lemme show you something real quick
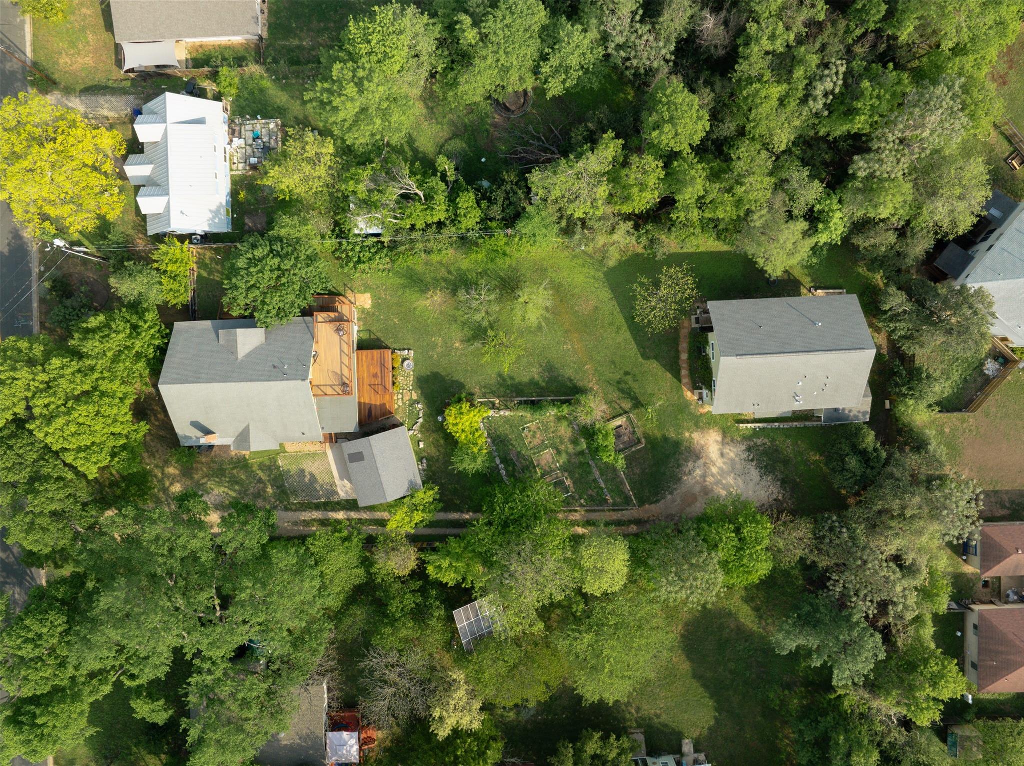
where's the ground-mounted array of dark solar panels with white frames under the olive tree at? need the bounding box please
[453,592,511,653]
